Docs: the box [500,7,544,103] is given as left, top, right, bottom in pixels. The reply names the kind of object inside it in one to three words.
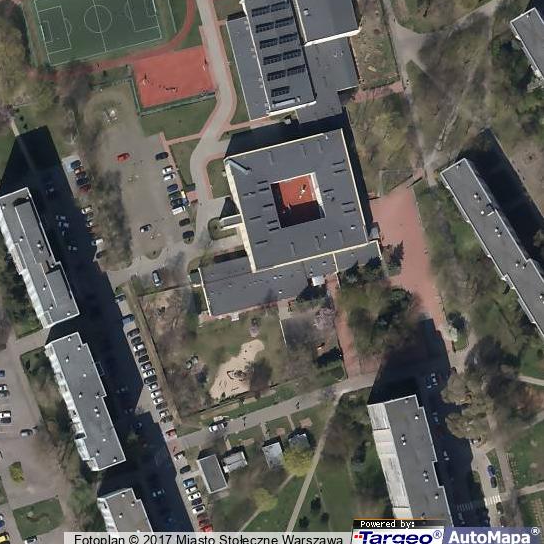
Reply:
building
